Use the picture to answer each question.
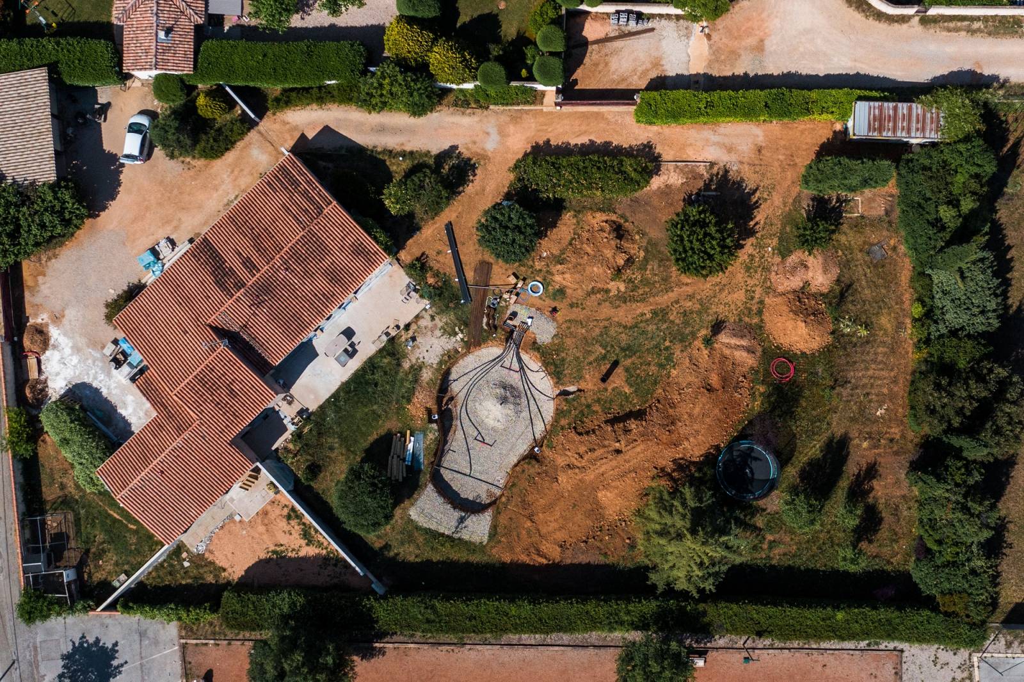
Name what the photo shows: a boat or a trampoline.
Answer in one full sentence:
There is a trampoline in the scene.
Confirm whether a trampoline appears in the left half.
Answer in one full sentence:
No, in the left half there is no trampoline.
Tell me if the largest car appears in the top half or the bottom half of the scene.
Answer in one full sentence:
The largest car sits in the top half of the picture.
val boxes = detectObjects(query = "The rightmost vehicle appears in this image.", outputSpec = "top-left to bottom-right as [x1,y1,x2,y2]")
[120,113,154,164]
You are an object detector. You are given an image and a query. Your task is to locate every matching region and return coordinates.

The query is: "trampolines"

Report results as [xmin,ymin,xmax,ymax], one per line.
[717,440,784,503]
